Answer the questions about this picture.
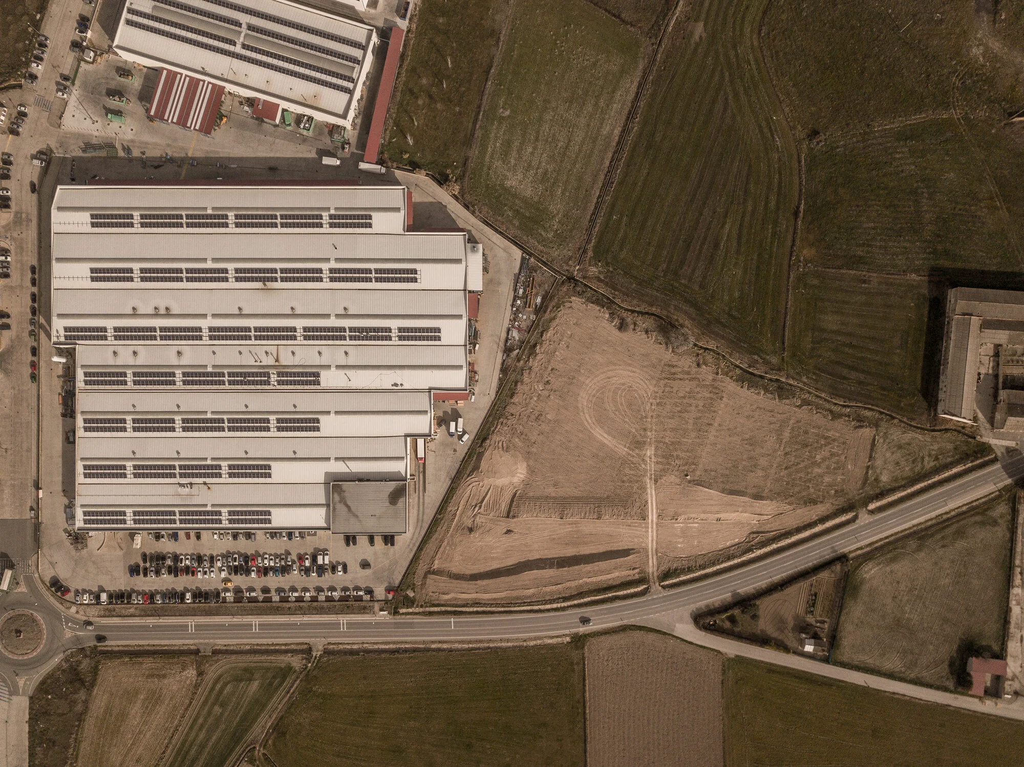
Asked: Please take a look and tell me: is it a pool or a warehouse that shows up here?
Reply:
warehouse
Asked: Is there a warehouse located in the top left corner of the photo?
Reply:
Yes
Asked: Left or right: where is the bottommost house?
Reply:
right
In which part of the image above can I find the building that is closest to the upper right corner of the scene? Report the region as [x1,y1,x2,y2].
[934,287,1024,432]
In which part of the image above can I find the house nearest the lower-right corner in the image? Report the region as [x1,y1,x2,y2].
[963,654,1009,701]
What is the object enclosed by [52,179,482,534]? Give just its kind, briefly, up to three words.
warehouse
